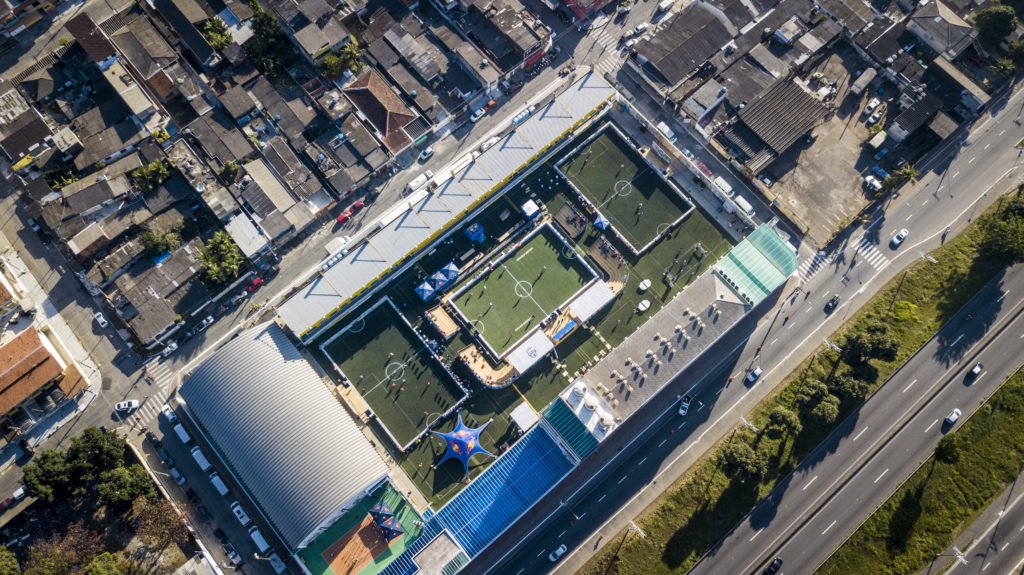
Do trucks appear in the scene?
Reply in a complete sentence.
Yes, this view includes a truck.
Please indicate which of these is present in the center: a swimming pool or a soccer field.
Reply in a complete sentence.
The feature located in the center is a soccer field.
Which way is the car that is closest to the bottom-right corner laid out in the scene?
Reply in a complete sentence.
In this picture, the car that is closest to the bottom-right corner lies diagonally.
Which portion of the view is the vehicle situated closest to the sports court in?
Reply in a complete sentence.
Look in the bottom left portion of the view to spot the vehicle situated closest to the sports court.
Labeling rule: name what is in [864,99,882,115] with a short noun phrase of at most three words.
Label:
car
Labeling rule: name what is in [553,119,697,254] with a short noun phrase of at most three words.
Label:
soccer field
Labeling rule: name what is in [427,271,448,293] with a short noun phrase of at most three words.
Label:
gazebo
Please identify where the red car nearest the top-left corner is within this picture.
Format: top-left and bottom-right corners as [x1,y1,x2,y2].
[245,276,266,293]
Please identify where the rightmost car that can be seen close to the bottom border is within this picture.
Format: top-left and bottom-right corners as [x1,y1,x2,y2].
[763,555,785,575]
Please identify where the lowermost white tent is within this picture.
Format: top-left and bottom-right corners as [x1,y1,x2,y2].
[510,401,539,433]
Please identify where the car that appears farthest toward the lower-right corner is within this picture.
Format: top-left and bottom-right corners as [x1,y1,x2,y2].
[943,405,964,425]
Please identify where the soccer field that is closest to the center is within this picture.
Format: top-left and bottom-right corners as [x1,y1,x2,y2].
[448,219,602,360]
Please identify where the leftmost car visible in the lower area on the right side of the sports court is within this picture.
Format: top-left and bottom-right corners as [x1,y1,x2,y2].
[547,541,569,563]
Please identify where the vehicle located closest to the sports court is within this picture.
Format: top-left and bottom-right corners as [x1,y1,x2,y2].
[267,549,291,575]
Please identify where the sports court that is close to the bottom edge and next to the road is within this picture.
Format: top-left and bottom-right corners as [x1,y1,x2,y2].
[292,478,424,575]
